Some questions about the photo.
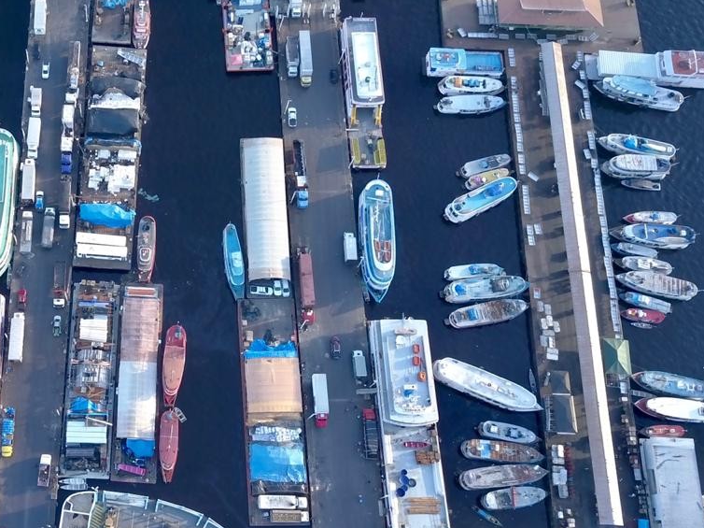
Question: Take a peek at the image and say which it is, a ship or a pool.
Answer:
ship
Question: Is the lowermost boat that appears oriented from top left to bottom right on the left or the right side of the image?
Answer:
right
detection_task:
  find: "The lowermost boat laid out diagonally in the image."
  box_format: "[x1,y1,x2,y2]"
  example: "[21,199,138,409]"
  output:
[473,505,504,527]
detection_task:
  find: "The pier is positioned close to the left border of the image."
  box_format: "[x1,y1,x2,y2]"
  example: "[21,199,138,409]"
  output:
[0,0,93,528]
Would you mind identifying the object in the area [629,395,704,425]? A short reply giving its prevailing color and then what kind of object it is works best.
white boat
